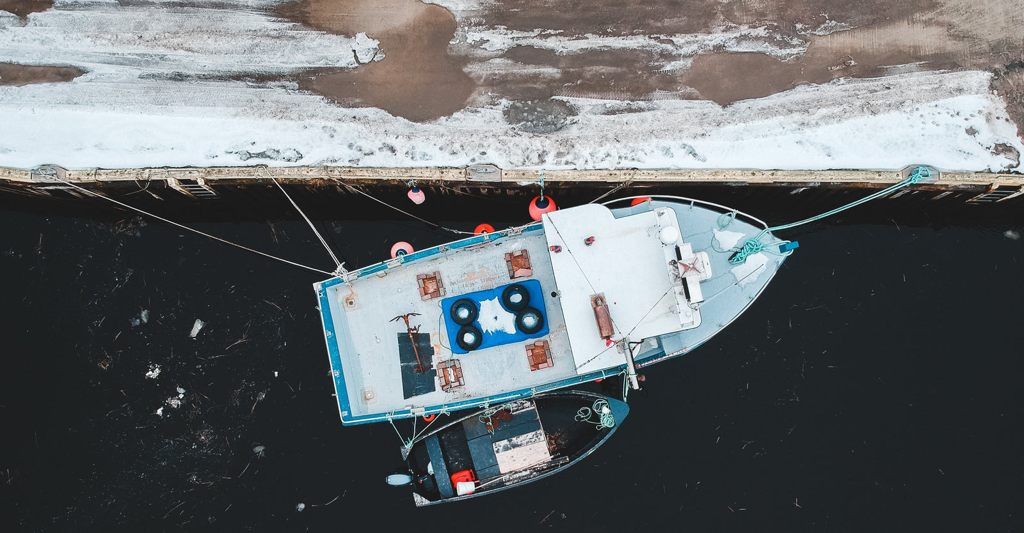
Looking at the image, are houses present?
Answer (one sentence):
No, the picture doesn't show any house.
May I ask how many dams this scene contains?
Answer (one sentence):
No dams are visible.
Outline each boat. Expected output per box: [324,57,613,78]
[388,390,630,507]
[311,194,799,424]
